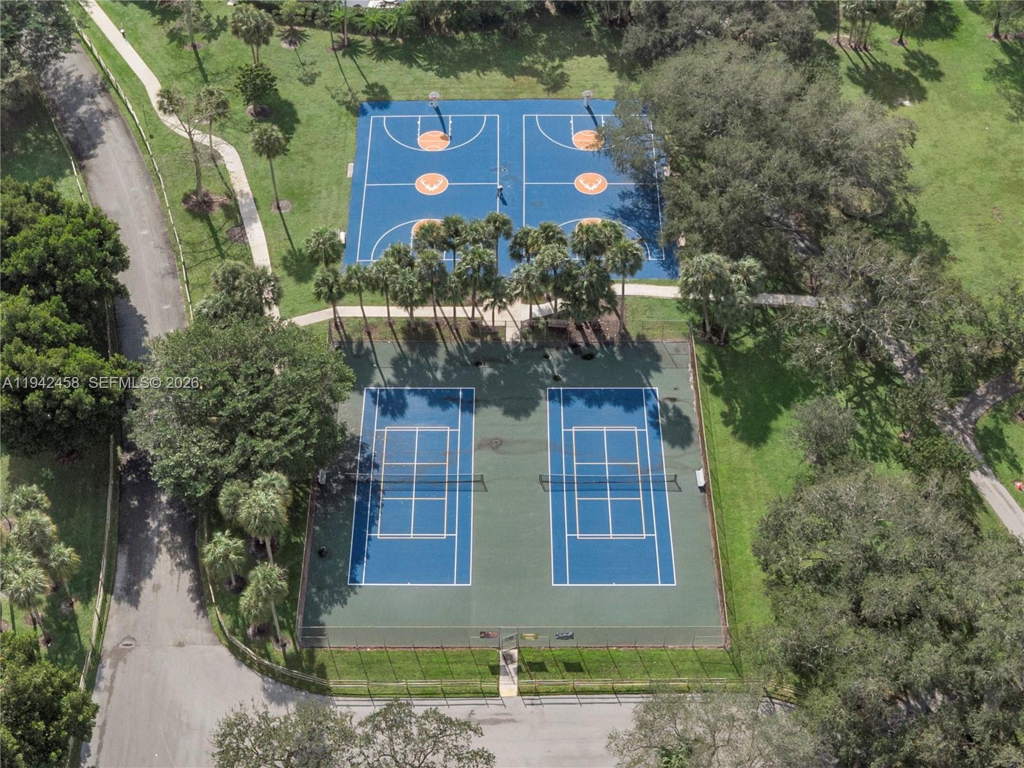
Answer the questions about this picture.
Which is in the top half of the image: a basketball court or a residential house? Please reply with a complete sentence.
Visible in the top half of the image is a basketball court.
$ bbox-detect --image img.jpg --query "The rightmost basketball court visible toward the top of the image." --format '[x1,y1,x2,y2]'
[523,115,665,262]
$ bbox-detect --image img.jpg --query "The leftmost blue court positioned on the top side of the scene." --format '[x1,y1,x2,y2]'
[358,115,499,262]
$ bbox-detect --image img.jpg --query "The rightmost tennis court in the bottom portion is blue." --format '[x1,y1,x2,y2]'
[547,388,676,585]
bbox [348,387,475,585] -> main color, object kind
blue tennis court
